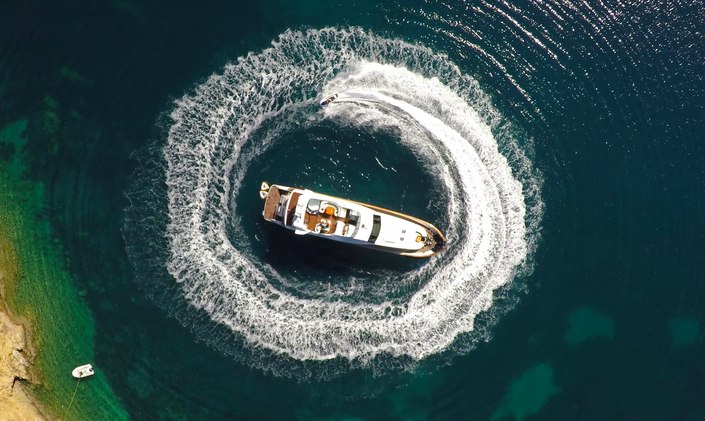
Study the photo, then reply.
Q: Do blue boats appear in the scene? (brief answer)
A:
No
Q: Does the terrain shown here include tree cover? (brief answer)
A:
No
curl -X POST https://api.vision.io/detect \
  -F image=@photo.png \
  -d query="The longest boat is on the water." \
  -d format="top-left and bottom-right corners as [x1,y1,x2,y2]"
[260,185,445,256]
